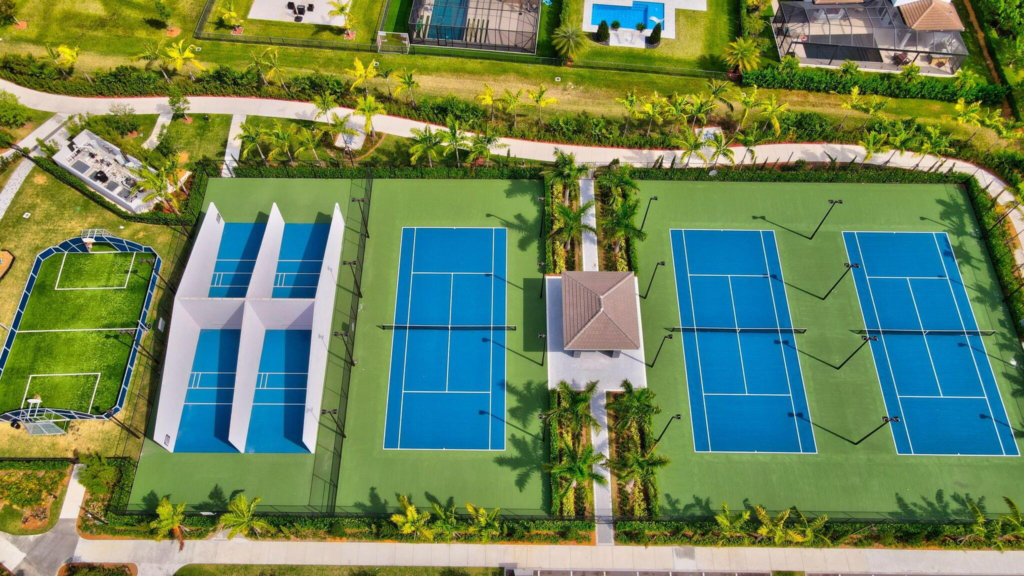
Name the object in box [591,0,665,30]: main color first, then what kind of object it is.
blue swimming pool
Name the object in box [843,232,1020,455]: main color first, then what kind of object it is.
blue tennis court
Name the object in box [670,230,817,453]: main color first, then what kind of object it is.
blue tennis court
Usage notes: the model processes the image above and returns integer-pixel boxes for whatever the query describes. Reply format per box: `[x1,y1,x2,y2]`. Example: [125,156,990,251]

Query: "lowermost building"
[561,269,642,357]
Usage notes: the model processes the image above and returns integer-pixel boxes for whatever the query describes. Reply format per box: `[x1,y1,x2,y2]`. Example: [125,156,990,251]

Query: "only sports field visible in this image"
[0,237,160,431]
